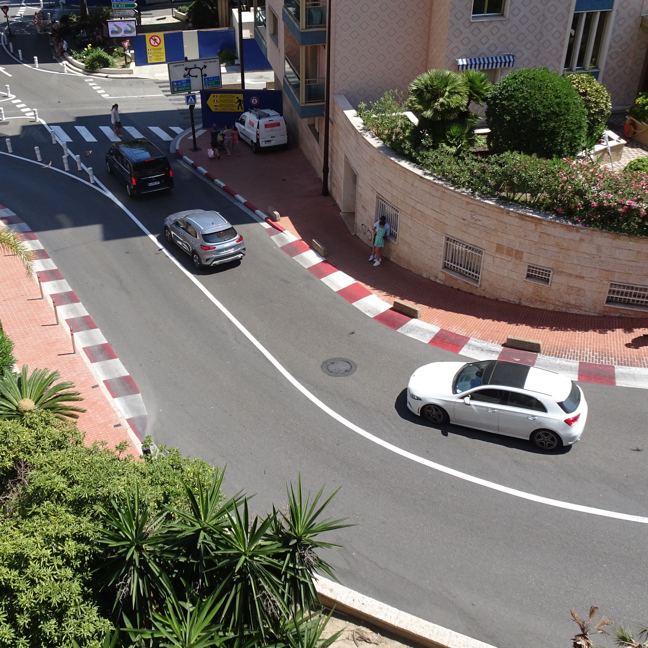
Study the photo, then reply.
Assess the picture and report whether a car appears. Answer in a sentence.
Yes, the photo shows a car.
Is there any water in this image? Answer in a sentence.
No, no water is visible.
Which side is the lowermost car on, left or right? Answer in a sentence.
The lowermost car sits on the right side.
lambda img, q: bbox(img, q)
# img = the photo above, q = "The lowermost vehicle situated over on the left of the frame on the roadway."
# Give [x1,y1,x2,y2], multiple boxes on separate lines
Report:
[159,206,246,270]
